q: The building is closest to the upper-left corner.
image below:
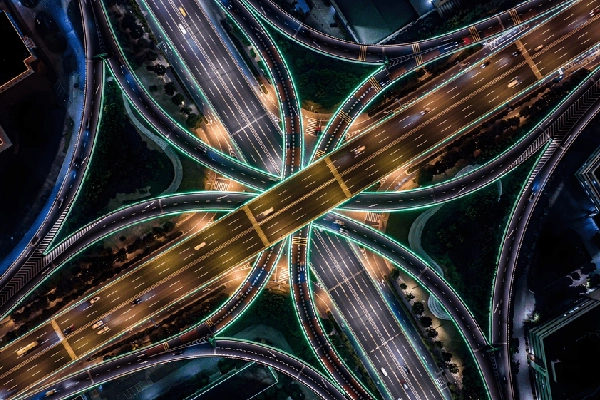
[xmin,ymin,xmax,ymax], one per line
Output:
[0,0,47,108]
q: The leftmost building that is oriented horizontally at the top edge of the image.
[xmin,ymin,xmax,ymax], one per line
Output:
[335,0,438,46]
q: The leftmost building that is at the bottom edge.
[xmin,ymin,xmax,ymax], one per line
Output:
[187,358,281,400]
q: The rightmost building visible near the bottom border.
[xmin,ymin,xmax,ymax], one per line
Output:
[526,288,600,400]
